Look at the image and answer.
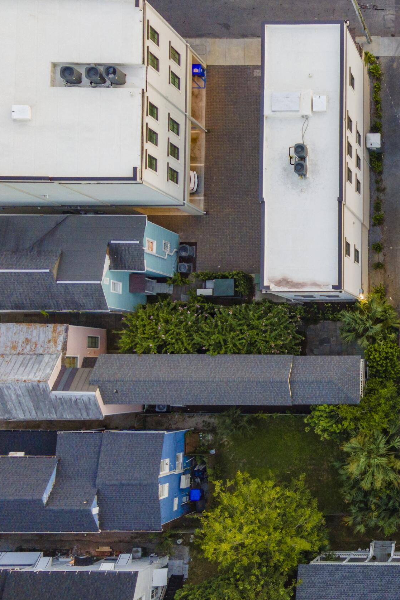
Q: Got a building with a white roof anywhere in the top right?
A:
Yes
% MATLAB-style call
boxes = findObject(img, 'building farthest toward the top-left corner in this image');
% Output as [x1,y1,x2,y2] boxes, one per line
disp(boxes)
[0,0,207,213]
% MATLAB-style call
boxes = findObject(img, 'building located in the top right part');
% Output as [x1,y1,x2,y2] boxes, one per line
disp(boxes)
[255,12,370,297]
